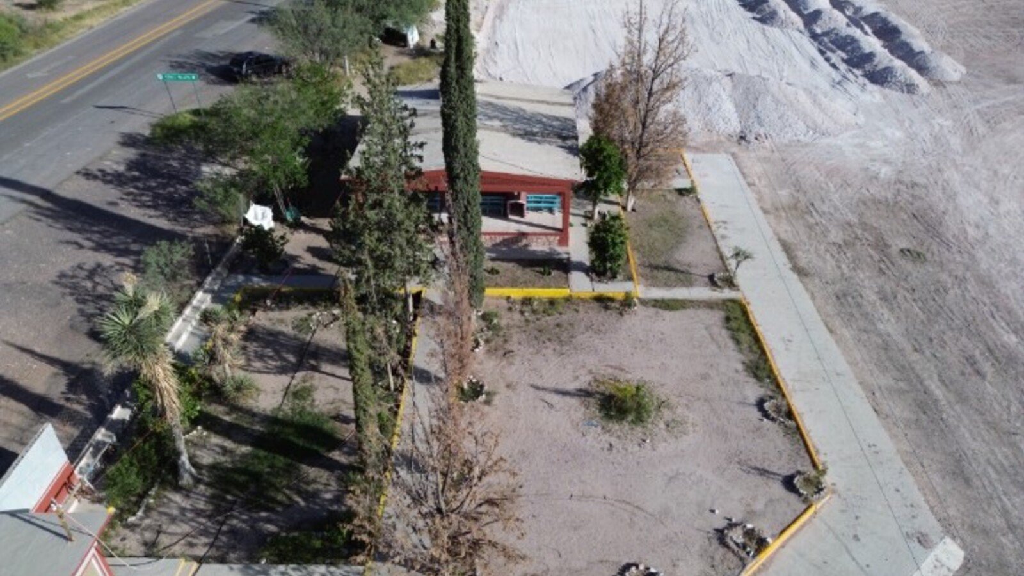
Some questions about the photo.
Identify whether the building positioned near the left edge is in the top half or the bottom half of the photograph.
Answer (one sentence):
The building positioned near the left edge is in the bottom half of the image.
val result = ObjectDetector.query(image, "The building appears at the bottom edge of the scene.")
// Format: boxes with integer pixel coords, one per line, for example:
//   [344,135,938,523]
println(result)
[0,424,118,576]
